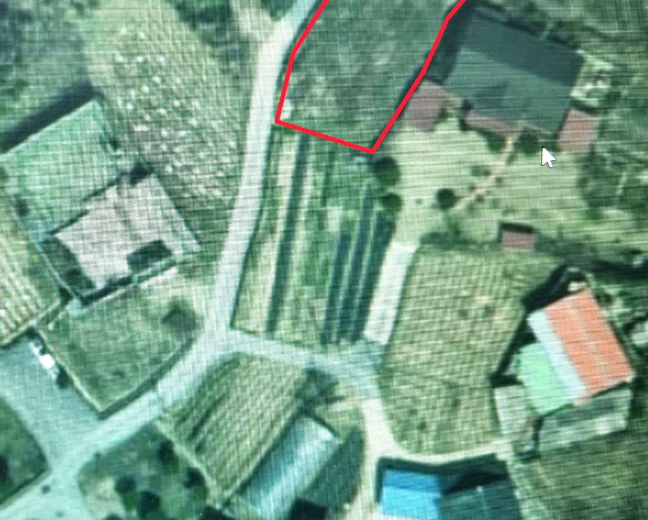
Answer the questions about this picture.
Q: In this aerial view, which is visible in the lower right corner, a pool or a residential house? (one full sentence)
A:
Looking in the lower right corner, you will find a residential house.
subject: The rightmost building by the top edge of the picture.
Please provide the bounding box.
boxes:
[446,17,583,137]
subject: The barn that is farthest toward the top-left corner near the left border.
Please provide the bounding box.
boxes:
[0,100,133,240]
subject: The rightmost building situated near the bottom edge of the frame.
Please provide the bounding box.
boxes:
[442,476,521,520]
